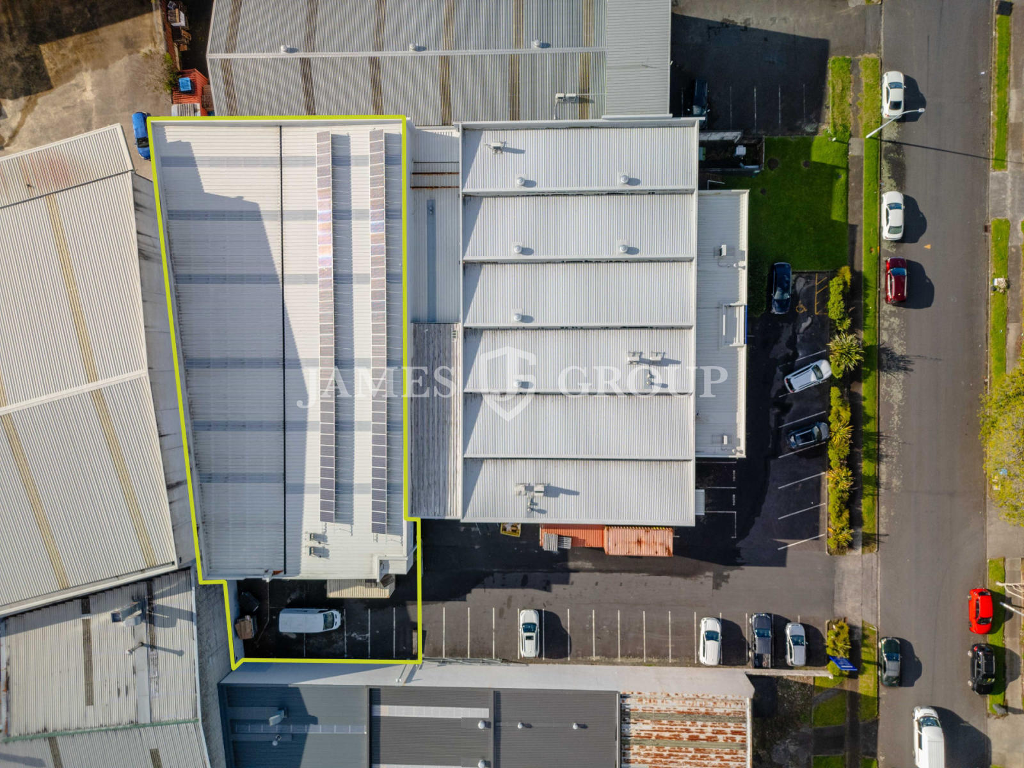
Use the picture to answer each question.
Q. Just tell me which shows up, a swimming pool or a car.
car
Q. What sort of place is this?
industrial area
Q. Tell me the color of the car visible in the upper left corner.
blue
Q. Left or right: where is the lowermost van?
right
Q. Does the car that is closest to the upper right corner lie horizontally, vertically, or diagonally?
vertically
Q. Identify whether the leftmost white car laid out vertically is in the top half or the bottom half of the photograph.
bottom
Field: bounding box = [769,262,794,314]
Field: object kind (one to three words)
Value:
car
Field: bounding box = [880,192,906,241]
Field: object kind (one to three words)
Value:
car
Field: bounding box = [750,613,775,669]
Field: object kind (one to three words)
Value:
truck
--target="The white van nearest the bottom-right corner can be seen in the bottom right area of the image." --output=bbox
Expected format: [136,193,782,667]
[911,703,950,768]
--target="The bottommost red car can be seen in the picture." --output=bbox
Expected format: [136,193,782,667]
[967,588,995,634]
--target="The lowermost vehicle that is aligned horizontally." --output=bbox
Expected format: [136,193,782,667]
[277,607,342,635]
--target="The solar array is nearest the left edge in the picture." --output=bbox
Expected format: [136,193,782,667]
[317,130,347,533]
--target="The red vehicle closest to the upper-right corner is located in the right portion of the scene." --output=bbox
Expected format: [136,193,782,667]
[884,258,910,304]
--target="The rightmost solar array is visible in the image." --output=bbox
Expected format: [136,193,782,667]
[370,128,398,543]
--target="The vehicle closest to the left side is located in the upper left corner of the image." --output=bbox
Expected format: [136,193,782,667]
[130,112,155,161]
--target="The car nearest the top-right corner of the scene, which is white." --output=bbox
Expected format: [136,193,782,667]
[881,72,906,120]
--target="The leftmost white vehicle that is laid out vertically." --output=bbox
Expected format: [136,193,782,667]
[518,609,541,658]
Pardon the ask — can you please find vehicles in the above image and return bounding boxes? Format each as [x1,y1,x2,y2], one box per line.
[884,258,910,304]
[878,636,903,687]
[689,76,713,129]
[784,620,808,666]
[750,613,775,669]
[277,607,342,635]
[699,617,724,666]
[967,588,995,634]
[880,192,906,241]
[782,361,832,393]
[785,422,830,451]
[130,112,155,161]
[967,643,996,694]
[881,72,906,120]
[518,609,541,658]
[911,703,950,768]
[769,262,794,314]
